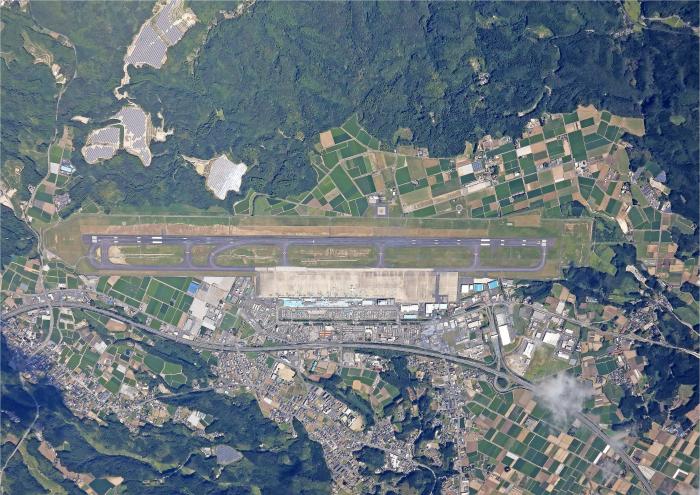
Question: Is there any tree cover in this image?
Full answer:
Yes, there is tree cover in the image.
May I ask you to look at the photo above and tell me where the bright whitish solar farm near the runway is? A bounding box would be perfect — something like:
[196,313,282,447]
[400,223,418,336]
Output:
[207,155,247,199]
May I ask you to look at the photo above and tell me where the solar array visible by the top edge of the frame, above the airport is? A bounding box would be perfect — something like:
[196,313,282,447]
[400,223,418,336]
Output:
[125,0,185,68]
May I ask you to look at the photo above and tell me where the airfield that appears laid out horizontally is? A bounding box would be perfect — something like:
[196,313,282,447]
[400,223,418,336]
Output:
[44,213,593,309]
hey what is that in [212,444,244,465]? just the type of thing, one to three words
solar array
